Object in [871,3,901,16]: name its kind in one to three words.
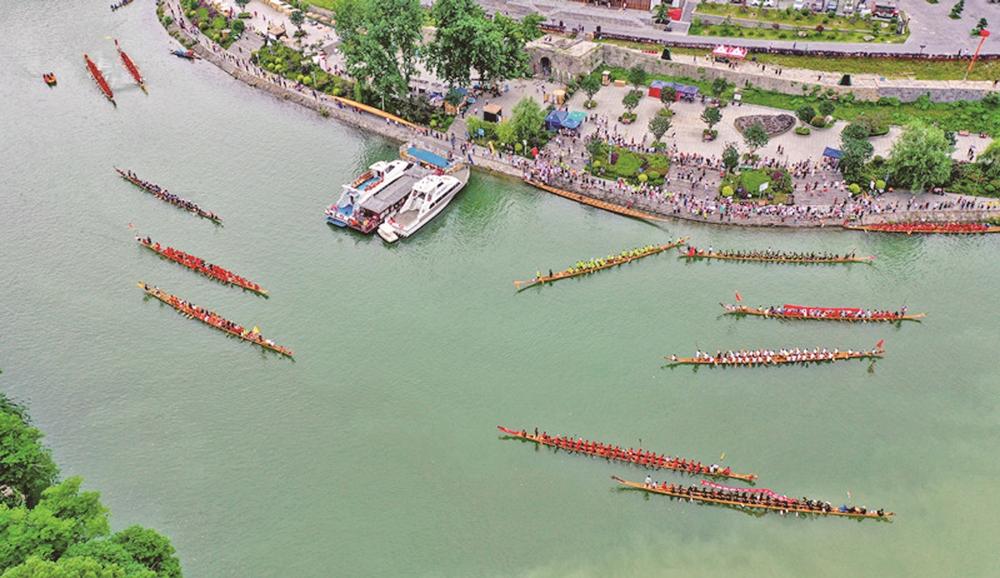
vehicle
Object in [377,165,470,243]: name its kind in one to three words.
boat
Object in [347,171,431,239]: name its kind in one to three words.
vessel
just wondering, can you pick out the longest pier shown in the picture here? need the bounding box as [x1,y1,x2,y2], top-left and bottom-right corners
[399,144,466,180]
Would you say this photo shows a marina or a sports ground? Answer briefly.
marina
